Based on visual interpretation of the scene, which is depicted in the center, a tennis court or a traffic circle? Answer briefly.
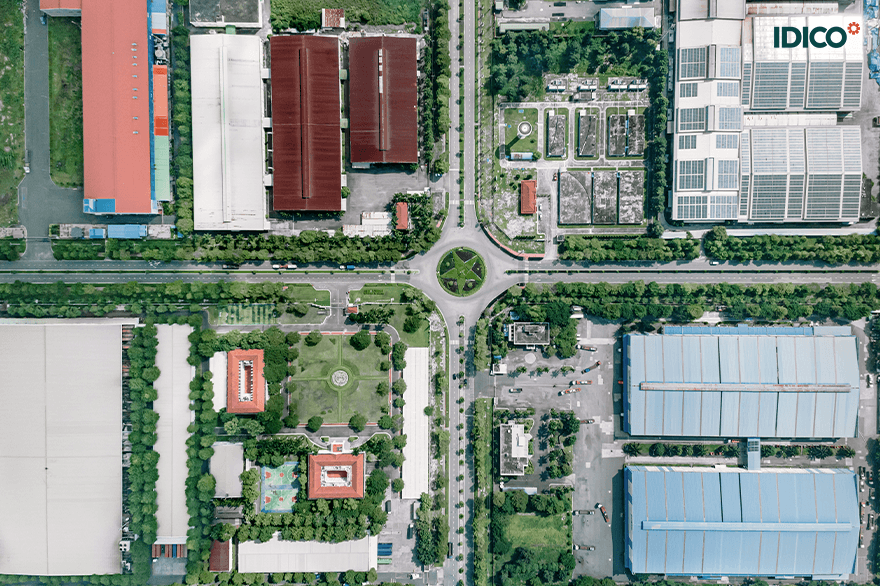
traffic circle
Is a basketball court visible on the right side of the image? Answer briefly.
No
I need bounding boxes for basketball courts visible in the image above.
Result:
[263,490,299,510]
[263,465,298,485]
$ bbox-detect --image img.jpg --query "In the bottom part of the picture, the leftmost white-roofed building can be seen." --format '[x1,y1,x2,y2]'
[0,325,125,575]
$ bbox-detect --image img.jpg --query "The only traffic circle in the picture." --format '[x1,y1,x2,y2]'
[437,247,487,297]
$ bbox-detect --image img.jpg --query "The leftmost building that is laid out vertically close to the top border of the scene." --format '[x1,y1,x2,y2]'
[81,0,156,214]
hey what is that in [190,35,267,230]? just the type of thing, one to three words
building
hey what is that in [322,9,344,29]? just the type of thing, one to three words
house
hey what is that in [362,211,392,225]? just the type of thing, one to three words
shed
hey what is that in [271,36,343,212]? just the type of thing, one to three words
building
